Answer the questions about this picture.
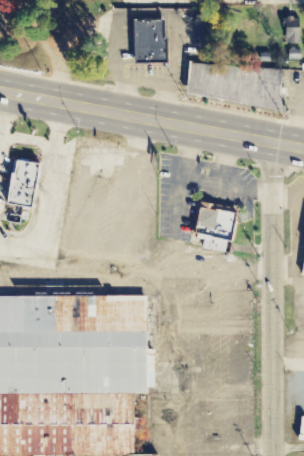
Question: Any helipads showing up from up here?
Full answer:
No, I can see no helipad in this picture.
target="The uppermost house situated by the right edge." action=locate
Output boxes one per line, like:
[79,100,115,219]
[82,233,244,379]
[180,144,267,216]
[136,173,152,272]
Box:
[286,16,302,44]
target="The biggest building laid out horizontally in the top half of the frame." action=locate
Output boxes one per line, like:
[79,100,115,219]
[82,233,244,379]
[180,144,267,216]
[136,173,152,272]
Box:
[188,62,284,112]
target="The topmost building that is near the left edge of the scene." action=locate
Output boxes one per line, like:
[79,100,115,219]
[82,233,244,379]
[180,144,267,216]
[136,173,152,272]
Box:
[8,160,39,206]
